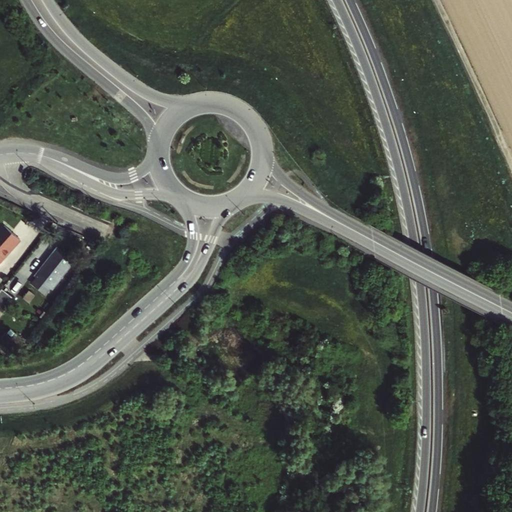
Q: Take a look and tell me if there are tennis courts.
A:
No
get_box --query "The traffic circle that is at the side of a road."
[147,91,274,218]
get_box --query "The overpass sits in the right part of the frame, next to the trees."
[326,205,512,324]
